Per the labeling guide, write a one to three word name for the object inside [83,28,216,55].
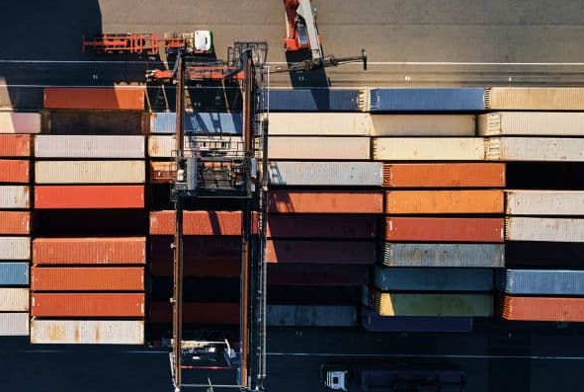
truck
